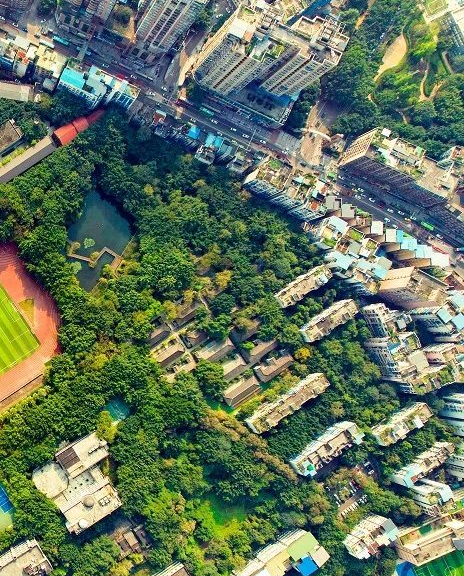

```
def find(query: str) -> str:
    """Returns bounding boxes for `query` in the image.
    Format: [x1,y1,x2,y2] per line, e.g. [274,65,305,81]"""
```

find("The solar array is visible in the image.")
[57,447,80,470]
